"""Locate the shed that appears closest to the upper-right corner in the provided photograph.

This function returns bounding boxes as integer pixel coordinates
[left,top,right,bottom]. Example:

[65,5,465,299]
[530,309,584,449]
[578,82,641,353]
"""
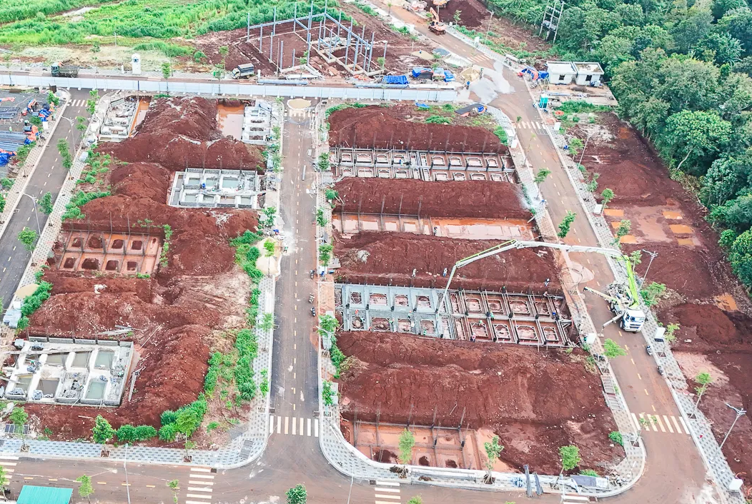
[572,60,601,86]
